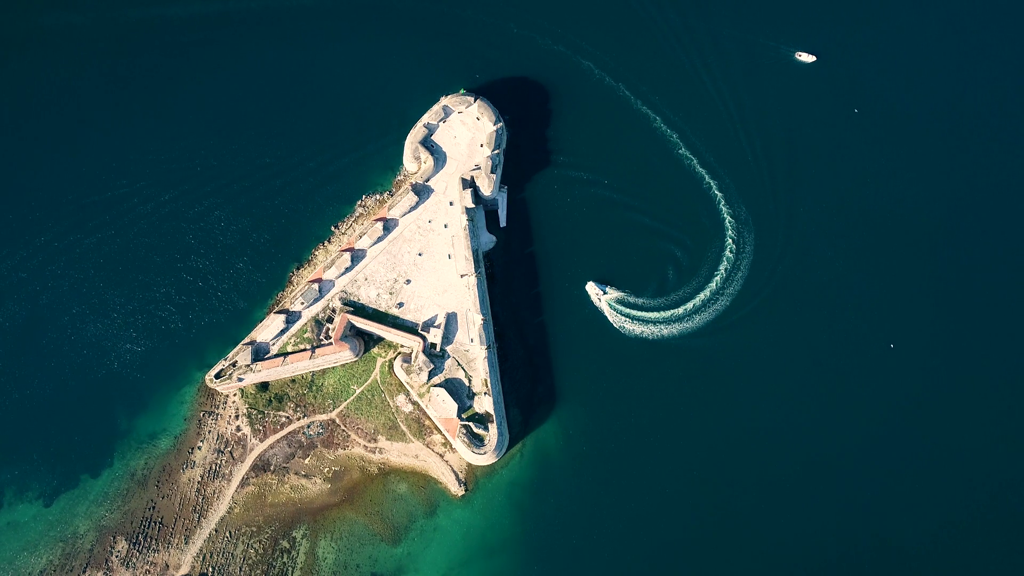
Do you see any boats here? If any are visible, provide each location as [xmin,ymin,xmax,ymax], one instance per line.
[585,282,606,299]
[794,51,817,61]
